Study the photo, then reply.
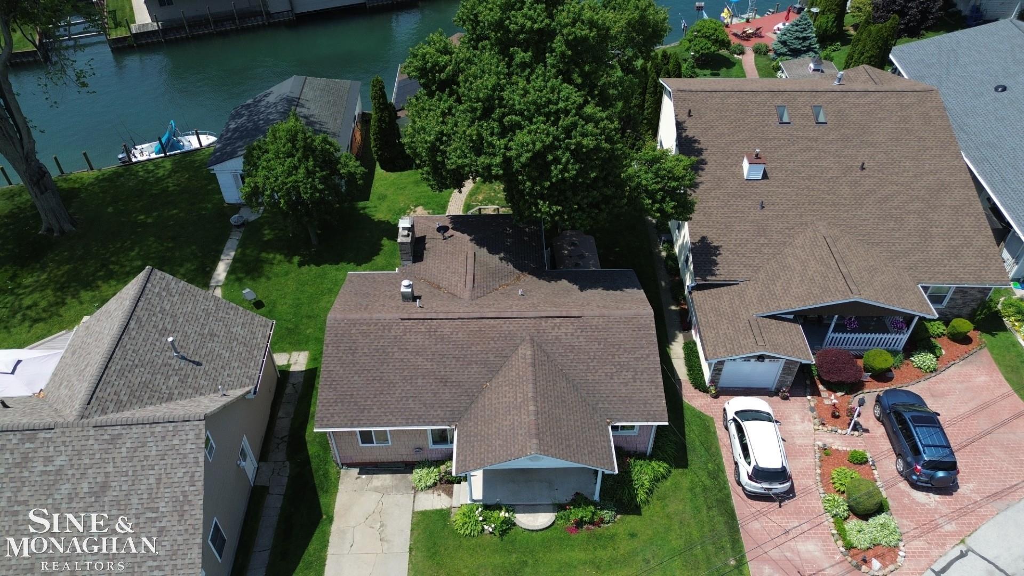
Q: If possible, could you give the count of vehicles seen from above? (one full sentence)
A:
The count of vehicles comes to 2.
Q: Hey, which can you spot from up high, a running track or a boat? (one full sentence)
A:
Looking from above, you can make out a boat.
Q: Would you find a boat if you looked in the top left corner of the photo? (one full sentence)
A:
Yes, in the top left corner of the photo there is a boat.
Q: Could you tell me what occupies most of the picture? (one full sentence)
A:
The largest share of the image is taken up by buildings.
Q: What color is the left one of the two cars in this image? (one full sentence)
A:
The left one of the two cars looks white in the image.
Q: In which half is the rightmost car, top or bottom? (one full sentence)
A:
Seen from above, the rightmost car lies in the bottom half of the view.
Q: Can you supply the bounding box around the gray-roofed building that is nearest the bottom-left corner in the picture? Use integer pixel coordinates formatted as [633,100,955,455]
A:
[0,265,281,576]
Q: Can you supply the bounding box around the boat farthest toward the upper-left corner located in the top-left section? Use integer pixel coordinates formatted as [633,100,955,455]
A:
[111,116,218,164]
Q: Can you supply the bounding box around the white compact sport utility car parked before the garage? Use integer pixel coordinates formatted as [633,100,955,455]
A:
[724,401,798,505]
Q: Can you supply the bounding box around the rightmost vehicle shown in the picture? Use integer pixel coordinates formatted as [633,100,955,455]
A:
[877,395,968,492]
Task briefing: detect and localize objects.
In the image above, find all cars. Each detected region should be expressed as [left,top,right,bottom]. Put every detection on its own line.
[877,395,968,492]
[724,401,798,505]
